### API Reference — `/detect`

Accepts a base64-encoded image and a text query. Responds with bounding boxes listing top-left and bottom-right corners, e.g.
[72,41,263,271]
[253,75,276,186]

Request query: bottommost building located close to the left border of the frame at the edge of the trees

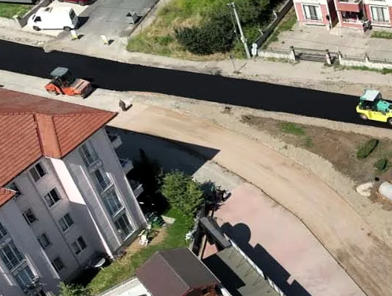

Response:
[0,83,153,296]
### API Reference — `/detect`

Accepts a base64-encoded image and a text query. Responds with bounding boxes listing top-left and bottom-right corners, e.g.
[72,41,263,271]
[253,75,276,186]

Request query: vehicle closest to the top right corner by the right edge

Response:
[353,89,392,127]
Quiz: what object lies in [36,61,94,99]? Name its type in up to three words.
work vehicle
